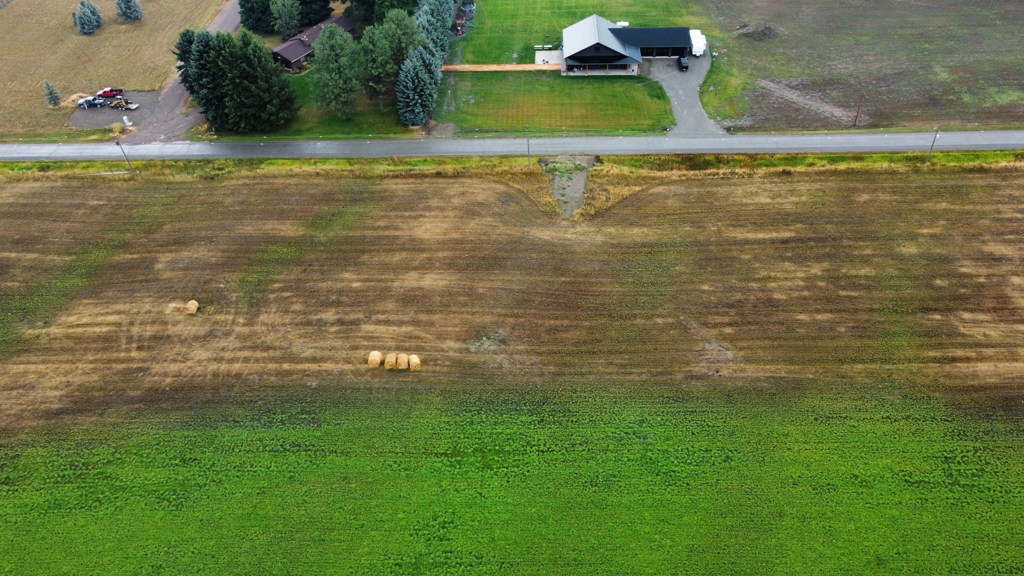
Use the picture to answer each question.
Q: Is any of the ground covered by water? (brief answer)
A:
No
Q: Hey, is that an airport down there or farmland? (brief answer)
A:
farmland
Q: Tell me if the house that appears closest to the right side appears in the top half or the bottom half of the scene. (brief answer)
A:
top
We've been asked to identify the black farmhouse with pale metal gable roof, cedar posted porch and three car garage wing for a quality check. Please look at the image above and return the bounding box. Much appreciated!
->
[563,14,693,75]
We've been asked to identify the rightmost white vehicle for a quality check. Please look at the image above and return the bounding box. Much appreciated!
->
[689,30,707,59]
